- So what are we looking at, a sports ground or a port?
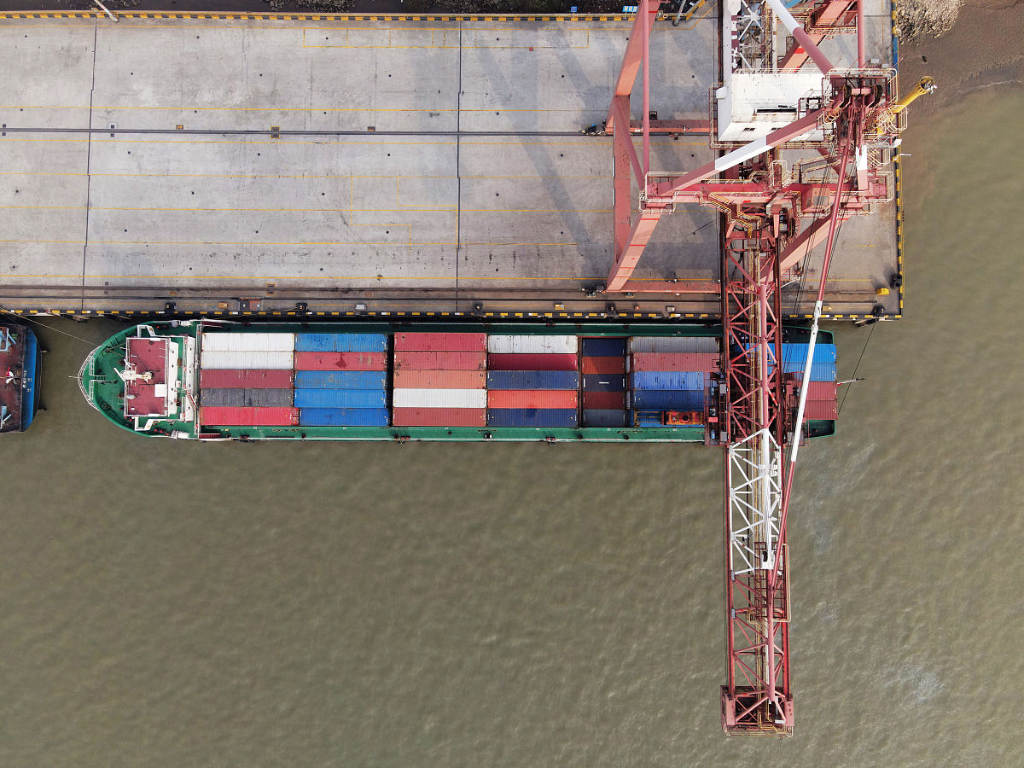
port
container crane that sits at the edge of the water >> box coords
[578,0,931,733]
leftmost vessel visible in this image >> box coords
[0,322,58,434]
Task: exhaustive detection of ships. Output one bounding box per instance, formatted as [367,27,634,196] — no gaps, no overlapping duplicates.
[0,322,58,434]
[67,322,871,442]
